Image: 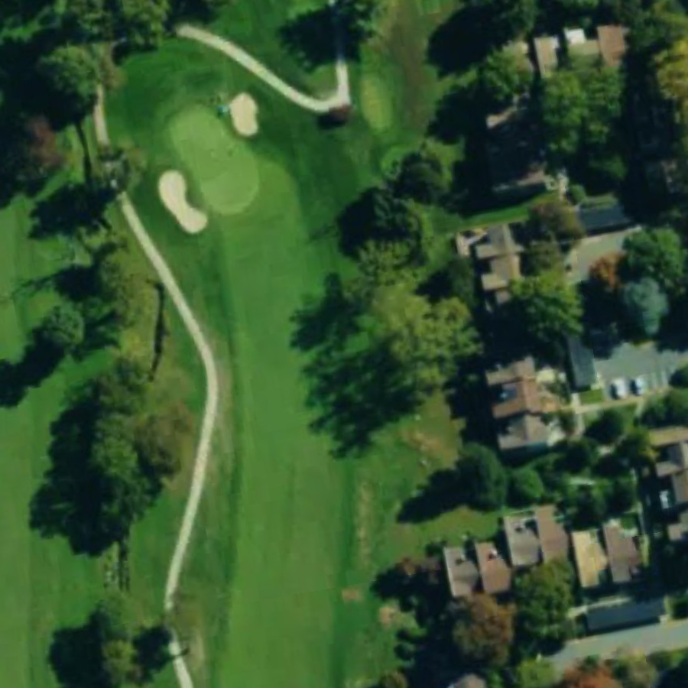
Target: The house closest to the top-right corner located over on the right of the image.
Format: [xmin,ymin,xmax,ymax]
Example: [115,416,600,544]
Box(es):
[595,26,629,68]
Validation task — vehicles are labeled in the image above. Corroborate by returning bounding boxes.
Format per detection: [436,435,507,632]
[616,379,626,397]
[633,375,644,394]
[219,105,231,113]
